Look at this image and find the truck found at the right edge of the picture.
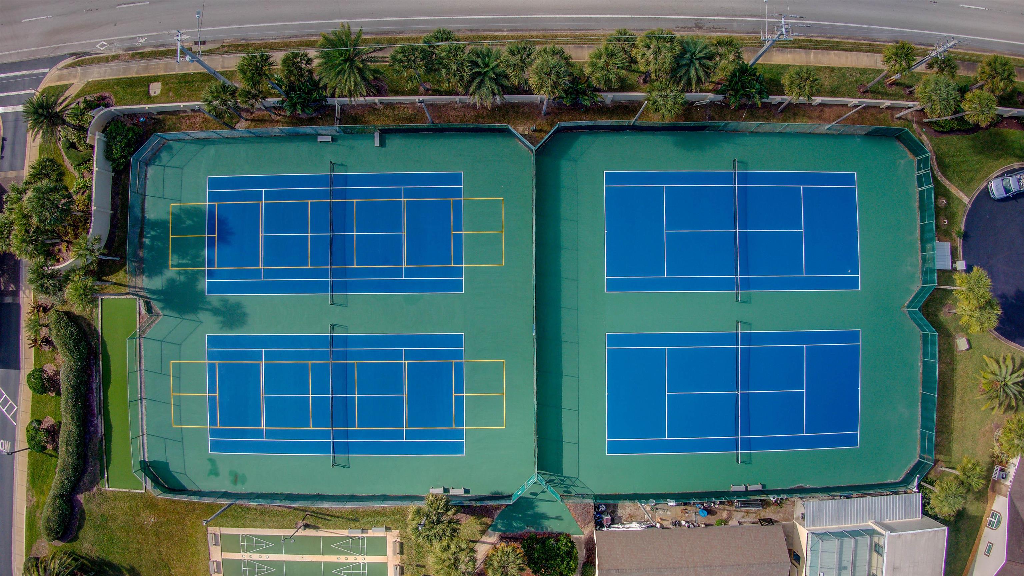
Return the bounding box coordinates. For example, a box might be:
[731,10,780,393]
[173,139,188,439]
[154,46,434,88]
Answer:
[988,169,1024,198]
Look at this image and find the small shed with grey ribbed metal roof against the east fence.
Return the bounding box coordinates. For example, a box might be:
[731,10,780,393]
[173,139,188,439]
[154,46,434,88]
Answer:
[926,242,951,269]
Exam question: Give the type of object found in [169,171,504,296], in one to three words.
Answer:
tennis court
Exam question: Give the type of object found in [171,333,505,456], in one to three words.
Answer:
tennis court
